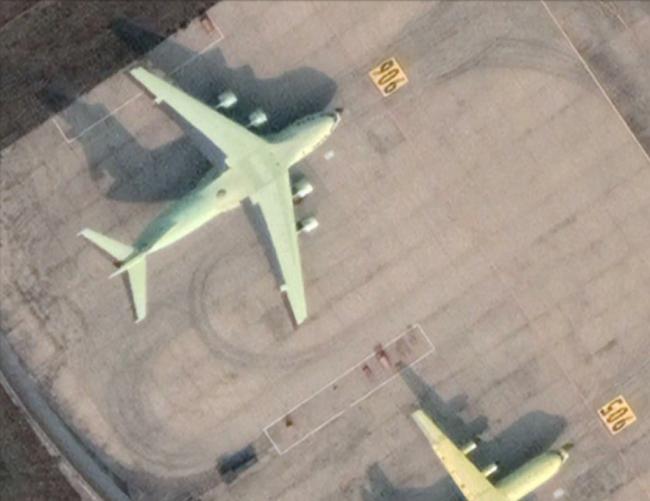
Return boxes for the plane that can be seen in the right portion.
[415,412,571,501]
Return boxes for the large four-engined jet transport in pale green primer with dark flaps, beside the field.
[76,67,342,326]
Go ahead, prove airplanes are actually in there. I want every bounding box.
[415,412,571,501]
[76,67,342,326]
